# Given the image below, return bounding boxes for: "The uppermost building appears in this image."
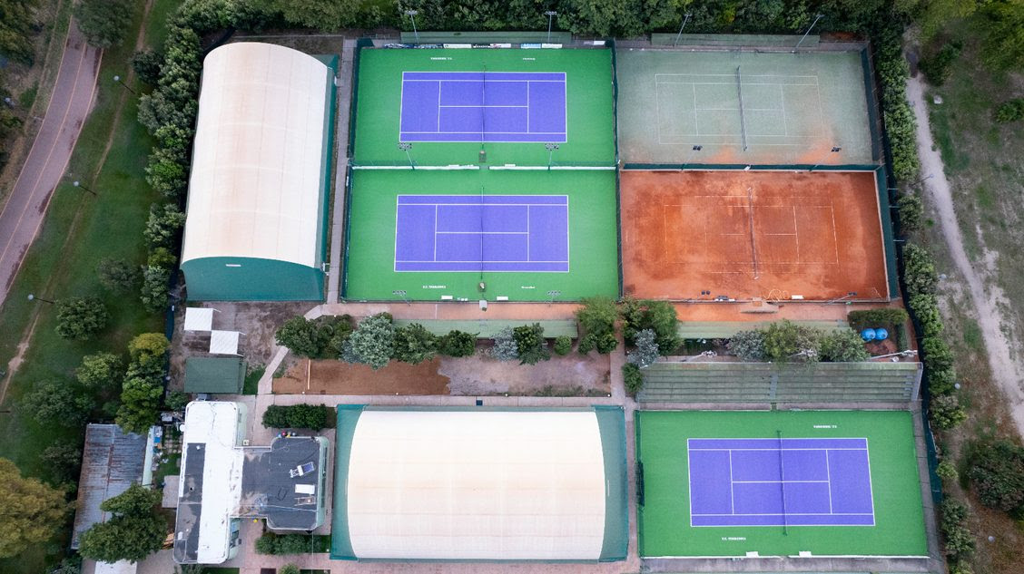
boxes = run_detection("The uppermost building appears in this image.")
[182,41,335,301]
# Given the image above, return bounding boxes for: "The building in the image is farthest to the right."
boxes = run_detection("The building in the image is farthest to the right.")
[330,406,628,561]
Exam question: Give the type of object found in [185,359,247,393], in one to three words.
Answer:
shed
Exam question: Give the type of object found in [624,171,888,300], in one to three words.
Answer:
tennis court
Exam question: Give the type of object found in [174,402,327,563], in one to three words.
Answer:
building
